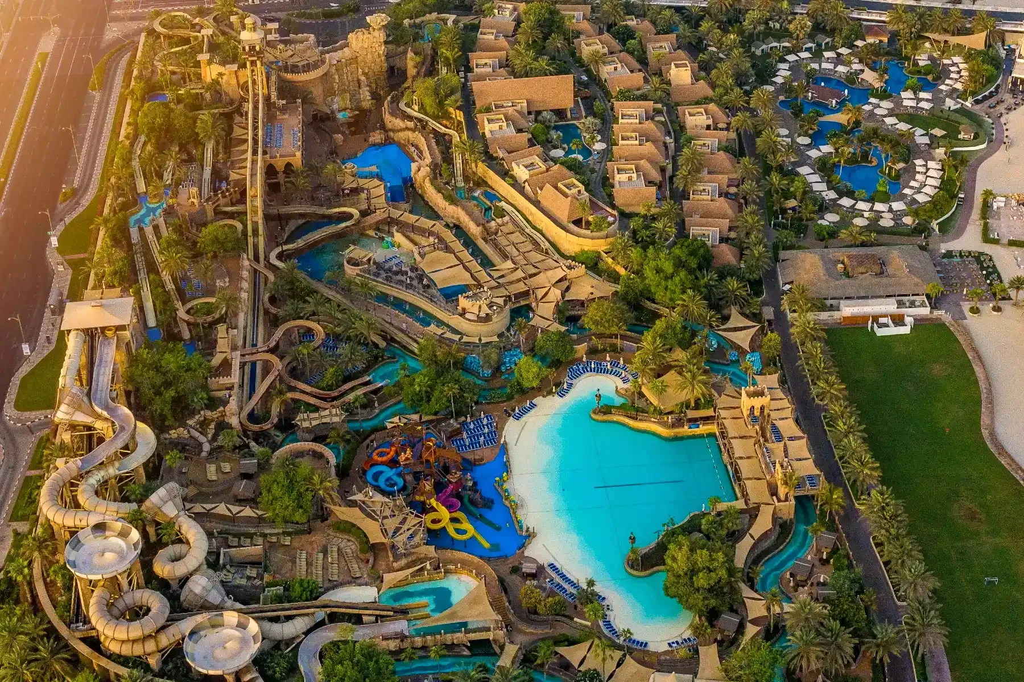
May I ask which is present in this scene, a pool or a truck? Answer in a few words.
pool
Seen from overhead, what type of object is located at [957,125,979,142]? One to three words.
gazebo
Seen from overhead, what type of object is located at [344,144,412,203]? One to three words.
swimming pool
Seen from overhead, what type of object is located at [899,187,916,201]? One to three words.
umbrella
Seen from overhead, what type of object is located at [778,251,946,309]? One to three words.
building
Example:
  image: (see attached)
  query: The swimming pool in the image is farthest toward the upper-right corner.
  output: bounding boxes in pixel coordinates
[872,57,937,95]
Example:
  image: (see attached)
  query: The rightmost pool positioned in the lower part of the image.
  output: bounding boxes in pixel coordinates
[505,373,737,653]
